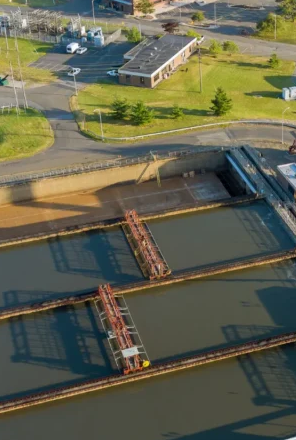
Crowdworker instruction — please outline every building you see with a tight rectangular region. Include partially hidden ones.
[76,0,140,15]
[276,163,296,211]
[110,32,200,87]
